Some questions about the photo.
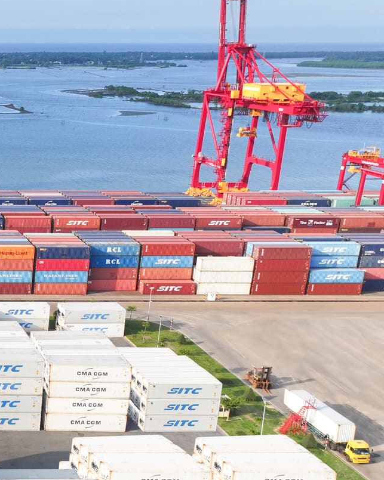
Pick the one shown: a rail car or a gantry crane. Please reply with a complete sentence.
The one in the frame is a gantry crane.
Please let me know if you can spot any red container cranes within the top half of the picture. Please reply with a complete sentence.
Yes, a red container crane is visible within the top half of the picture.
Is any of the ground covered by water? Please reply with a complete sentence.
Yes, water can be seen from above here.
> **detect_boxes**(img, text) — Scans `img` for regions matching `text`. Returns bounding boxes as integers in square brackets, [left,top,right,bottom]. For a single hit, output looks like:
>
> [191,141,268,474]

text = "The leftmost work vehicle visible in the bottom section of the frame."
[242,364,278,392]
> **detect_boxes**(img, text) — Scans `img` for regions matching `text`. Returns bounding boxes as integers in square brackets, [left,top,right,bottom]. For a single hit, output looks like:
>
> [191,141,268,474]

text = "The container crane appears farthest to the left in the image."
[185,0,334,205]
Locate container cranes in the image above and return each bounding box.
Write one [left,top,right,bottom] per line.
[340,148,384,206]
[185,0,334,205]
